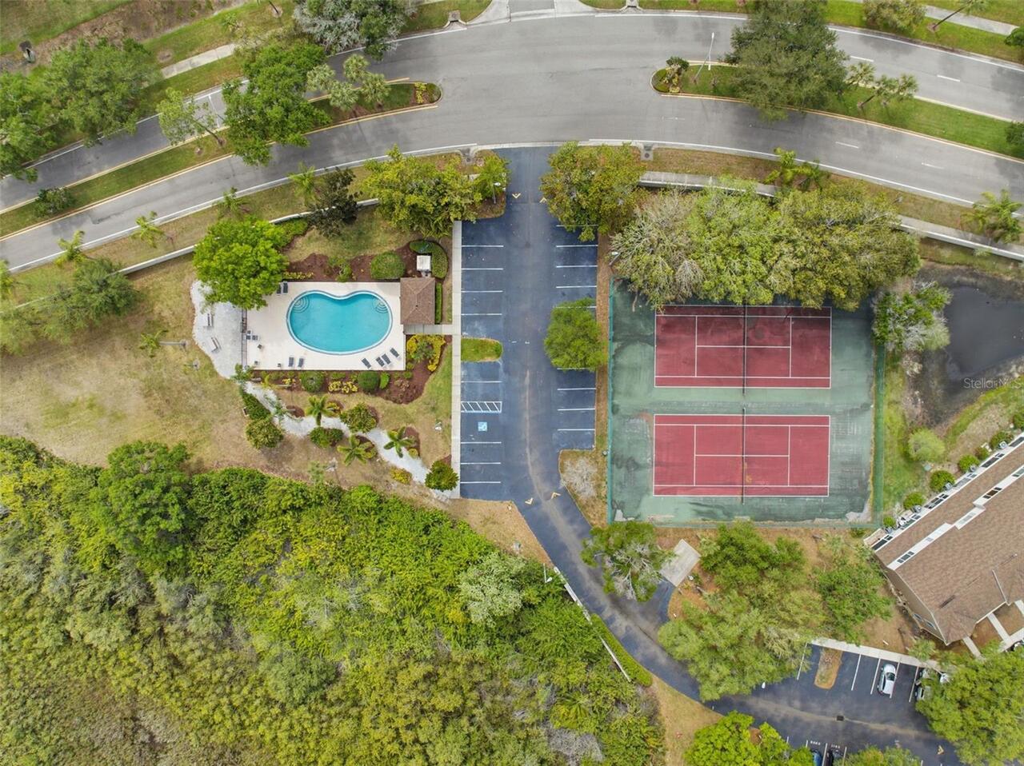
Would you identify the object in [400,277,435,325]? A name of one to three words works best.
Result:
shed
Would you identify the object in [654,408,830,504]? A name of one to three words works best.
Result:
tennis court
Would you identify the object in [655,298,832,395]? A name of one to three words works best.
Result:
tennis court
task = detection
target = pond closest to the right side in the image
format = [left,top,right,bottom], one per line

[939,282,1024,397]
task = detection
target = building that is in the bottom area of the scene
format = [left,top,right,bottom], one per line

[872,434,1024,647]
